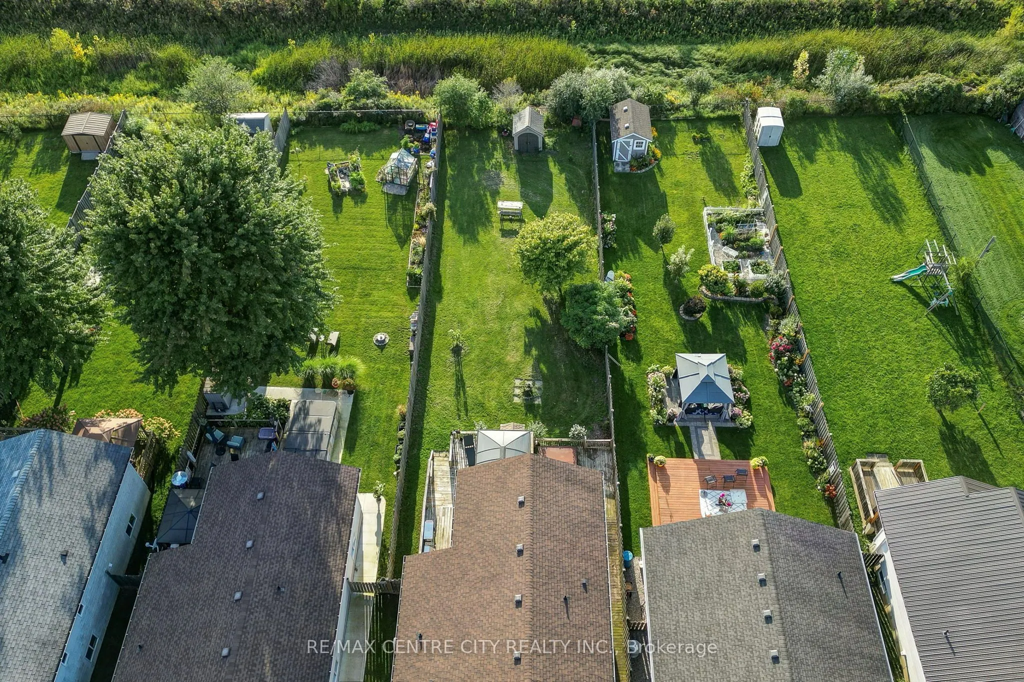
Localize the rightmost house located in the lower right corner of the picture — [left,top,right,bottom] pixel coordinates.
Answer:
[868,476,1024,682]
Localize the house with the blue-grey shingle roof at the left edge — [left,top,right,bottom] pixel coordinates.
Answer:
[0,429,151,682]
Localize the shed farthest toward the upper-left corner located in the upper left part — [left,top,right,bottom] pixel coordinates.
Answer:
[58,98,118,152]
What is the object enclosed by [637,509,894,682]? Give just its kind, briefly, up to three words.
house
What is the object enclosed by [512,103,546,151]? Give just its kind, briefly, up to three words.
shed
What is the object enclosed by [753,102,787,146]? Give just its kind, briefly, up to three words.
shed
